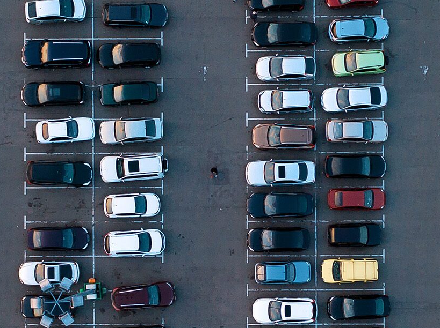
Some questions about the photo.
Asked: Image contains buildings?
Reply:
No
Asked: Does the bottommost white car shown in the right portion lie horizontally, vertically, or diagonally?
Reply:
horizontally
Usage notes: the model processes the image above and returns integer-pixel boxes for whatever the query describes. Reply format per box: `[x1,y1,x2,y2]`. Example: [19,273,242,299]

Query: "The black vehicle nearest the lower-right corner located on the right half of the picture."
[327,293,391,322]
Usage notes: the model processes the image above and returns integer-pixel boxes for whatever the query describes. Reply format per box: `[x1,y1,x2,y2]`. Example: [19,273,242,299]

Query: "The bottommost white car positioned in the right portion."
[252,296,318,326]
